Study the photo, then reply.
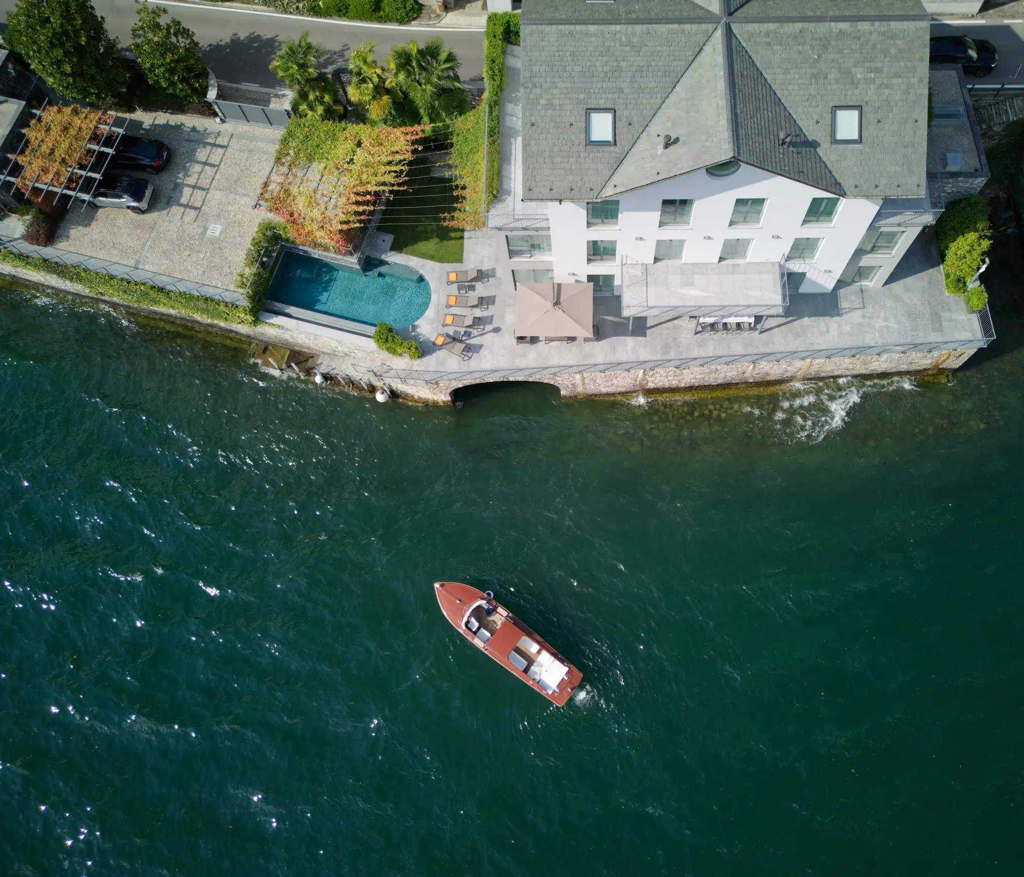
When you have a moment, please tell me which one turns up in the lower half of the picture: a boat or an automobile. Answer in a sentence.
Visible in the lower half of the picture is a boat.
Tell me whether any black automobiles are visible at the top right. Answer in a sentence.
Yes, looking at the top right, one can make out a black automobile.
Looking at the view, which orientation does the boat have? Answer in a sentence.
In this picture, the boat lies diagonally.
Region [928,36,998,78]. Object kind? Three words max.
car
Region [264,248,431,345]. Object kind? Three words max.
swimming pool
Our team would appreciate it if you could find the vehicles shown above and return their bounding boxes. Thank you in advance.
[89,132,169,175]
[928,36,998,78]
[76,167,154,212]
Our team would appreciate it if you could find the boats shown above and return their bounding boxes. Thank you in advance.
[433,581,583,707]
